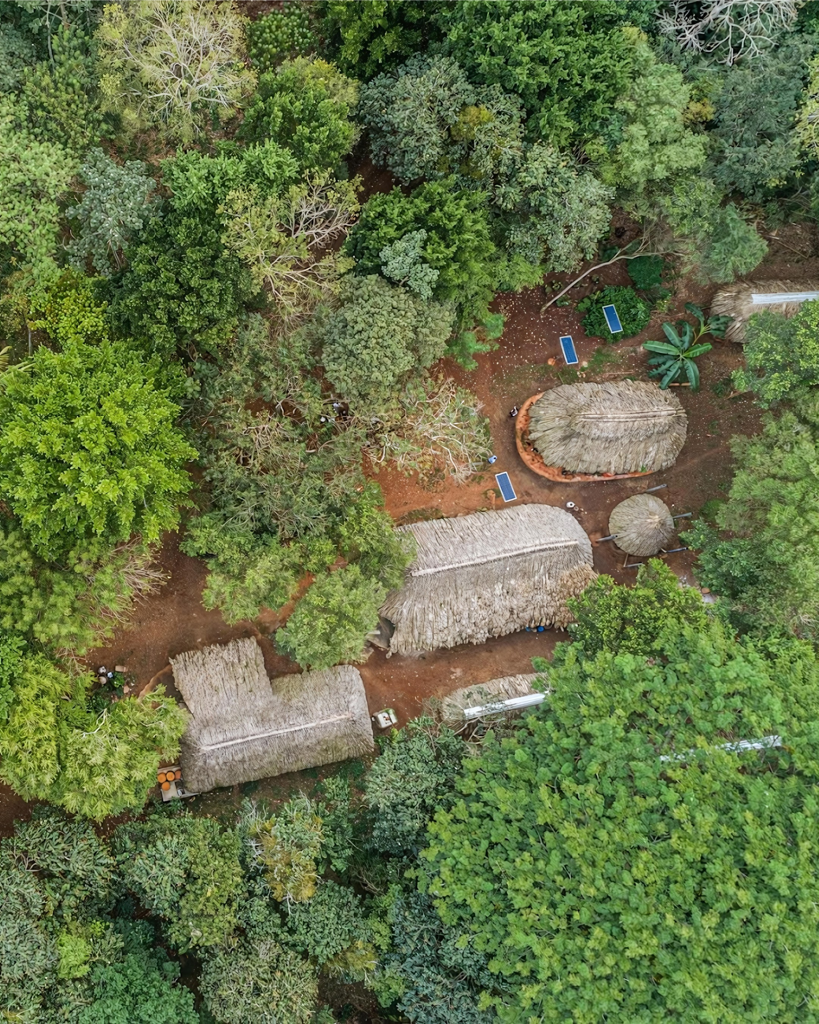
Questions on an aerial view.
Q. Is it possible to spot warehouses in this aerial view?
No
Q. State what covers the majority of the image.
trees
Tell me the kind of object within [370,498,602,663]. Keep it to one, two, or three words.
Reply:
shed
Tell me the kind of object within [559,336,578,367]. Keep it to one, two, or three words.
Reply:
solar panel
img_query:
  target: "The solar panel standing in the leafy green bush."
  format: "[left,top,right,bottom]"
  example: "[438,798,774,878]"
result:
[602,305,623,336]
